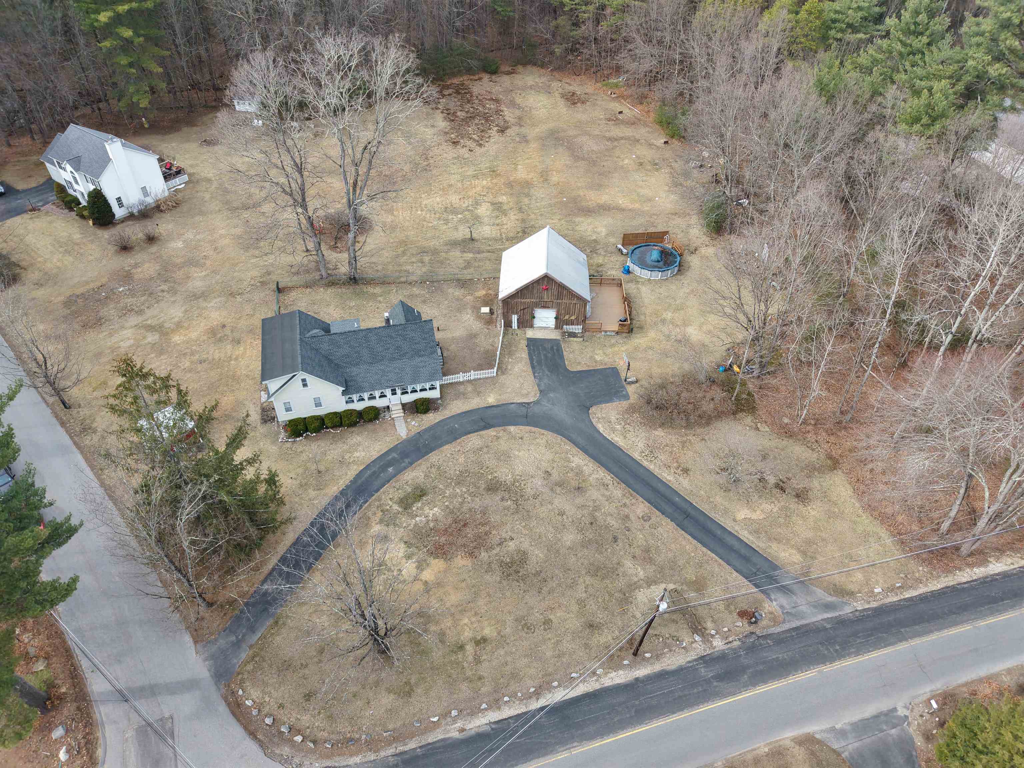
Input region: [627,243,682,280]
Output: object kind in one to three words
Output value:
swimming pool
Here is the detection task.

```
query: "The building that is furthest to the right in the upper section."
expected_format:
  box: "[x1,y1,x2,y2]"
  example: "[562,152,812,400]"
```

[499,227,590,331]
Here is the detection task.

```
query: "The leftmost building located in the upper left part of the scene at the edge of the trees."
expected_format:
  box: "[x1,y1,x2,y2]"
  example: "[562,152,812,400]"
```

[40,123,170,219]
